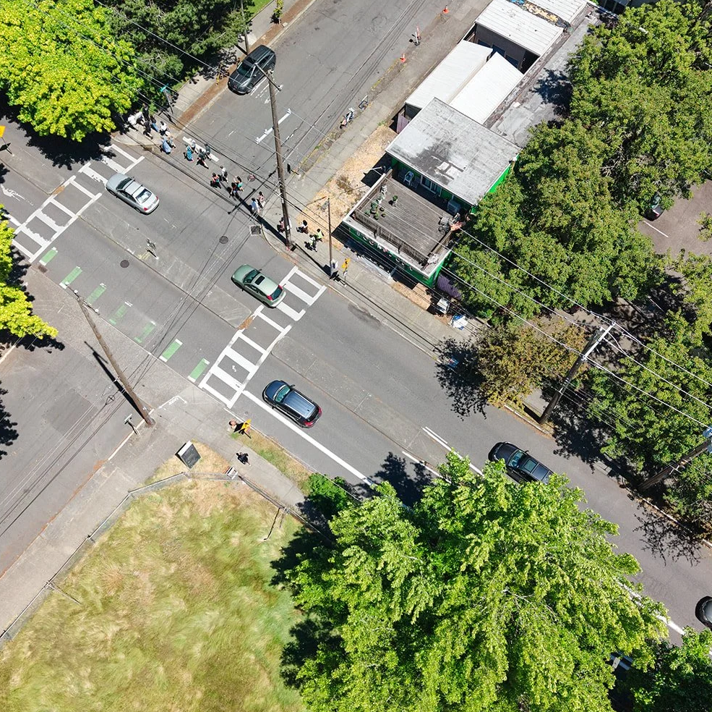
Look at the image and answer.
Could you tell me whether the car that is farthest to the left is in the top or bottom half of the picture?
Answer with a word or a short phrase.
top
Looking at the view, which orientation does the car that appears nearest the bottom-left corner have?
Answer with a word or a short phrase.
at an angle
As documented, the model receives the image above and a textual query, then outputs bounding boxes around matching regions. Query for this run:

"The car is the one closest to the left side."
[103,173,163,218]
